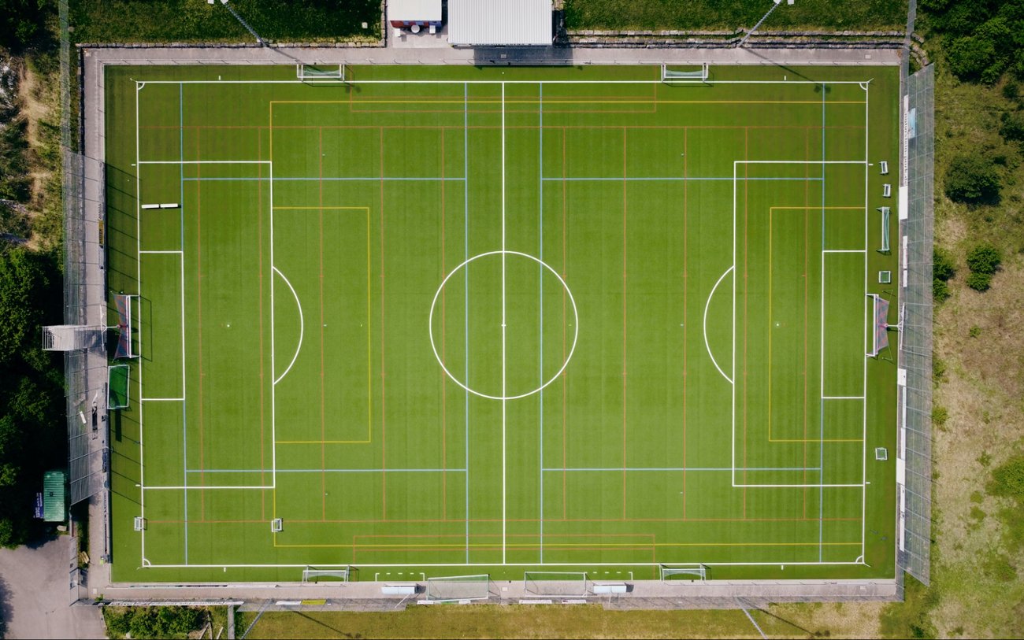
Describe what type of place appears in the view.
sports ground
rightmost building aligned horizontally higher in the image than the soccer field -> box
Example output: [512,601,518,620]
[448,0,553,48]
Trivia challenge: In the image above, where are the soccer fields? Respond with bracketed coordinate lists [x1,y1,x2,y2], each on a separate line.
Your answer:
[104,65,899,583]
